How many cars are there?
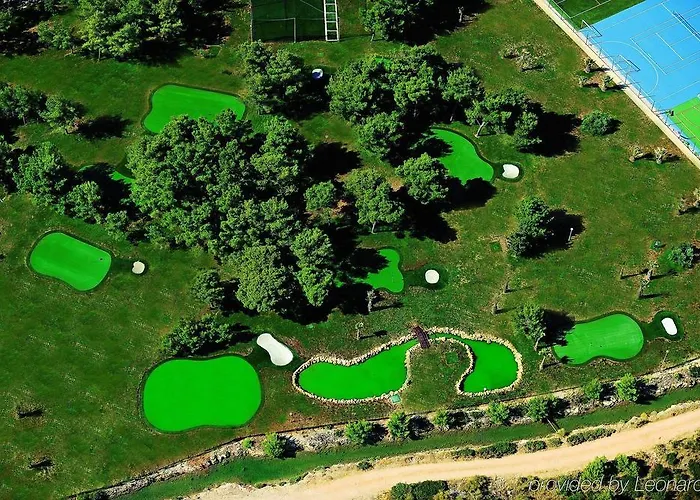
0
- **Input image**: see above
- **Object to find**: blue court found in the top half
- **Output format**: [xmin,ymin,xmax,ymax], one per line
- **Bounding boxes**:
[578,0,700,155]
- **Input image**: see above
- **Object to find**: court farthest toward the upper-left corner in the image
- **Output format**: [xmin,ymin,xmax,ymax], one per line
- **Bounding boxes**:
[247,0,339,42]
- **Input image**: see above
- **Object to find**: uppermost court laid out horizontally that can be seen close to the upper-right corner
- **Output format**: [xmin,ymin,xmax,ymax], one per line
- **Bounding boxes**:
[550,0,647,29]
